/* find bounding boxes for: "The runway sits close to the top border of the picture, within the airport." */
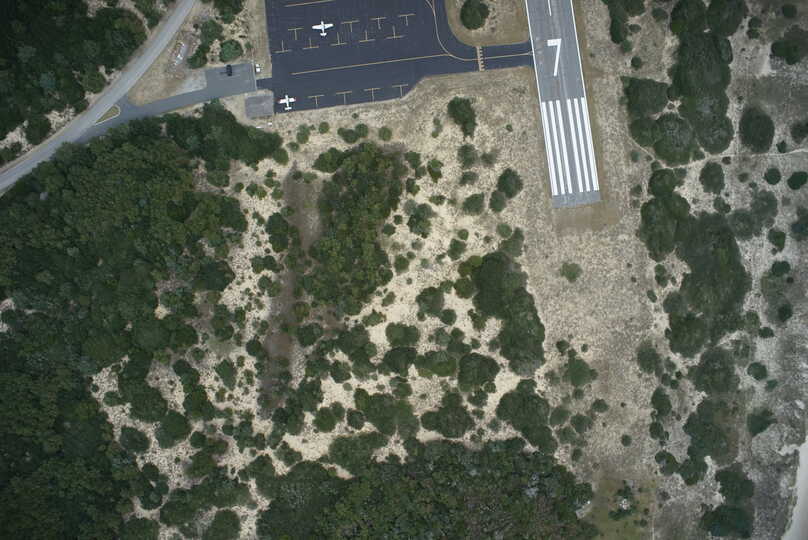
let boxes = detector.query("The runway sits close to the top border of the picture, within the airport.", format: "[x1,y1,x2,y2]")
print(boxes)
[525,0,598,197]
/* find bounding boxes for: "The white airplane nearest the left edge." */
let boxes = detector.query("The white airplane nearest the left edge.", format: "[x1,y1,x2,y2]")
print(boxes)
[277,93,297,108]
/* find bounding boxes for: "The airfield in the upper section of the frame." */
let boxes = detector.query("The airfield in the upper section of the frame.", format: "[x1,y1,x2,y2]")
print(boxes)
[256,0,600,208]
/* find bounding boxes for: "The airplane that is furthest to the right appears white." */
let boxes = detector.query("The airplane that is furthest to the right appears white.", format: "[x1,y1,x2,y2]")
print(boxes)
[312,19,334,35]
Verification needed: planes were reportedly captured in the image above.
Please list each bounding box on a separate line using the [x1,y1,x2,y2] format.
[277,93,297,108]
[312,19,334,35]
